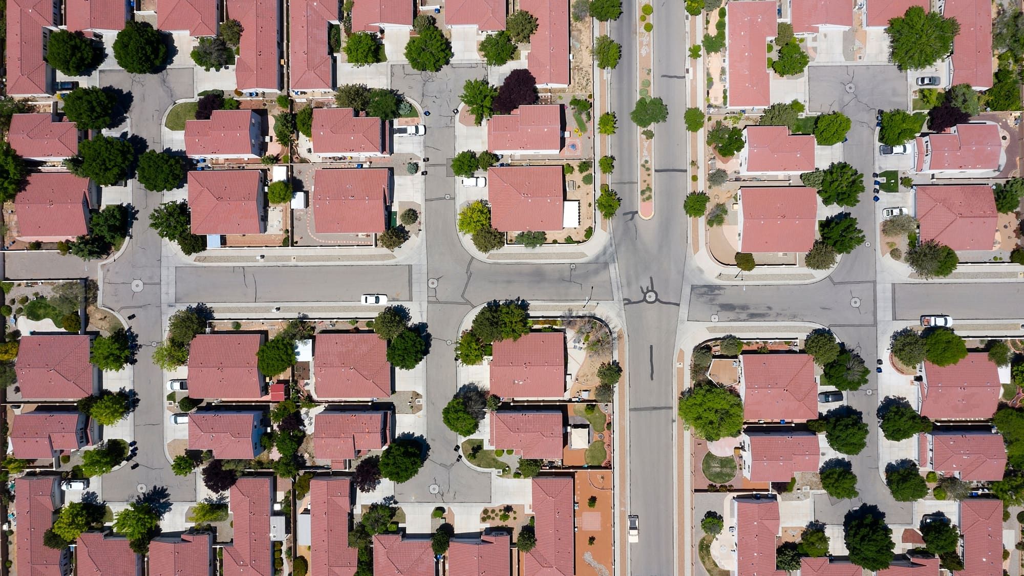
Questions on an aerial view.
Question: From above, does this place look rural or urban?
urban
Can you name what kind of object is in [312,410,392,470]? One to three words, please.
house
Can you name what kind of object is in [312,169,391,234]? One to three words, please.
house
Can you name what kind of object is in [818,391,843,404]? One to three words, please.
vehicle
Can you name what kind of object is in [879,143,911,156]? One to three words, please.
vehicle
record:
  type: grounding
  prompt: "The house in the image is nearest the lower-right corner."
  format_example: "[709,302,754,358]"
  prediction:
[947,498,1003,576]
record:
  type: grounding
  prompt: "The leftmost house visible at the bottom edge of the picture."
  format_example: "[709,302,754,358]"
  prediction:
[15,476,67,576]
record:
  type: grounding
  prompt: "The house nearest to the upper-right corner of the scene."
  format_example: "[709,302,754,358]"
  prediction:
[938,0,992,89]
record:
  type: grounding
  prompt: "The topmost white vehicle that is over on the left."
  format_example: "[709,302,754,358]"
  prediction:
[393,124,425,137]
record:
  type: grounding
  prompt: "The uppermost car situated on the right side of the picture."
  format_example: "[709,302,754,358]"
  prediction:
[915,75,940,87]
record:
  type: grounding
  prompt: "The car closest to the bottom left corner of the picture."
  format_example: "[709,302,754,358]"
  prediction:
[61,478,89,491]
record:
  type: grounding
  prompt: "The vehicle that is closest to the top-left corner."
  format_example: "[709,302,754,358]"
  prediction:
[53,79,81,92]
